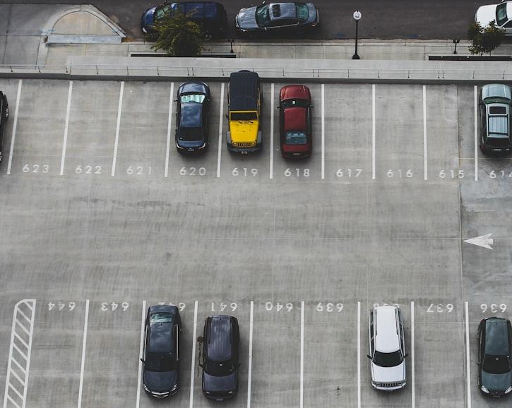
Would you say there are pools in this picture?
No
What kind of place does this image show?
parking lot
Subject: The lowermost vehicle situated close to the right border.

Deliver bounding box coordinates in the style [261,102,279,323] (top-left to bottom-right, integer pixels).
[476,314,512,399]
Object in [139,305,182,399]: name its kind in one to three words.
car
